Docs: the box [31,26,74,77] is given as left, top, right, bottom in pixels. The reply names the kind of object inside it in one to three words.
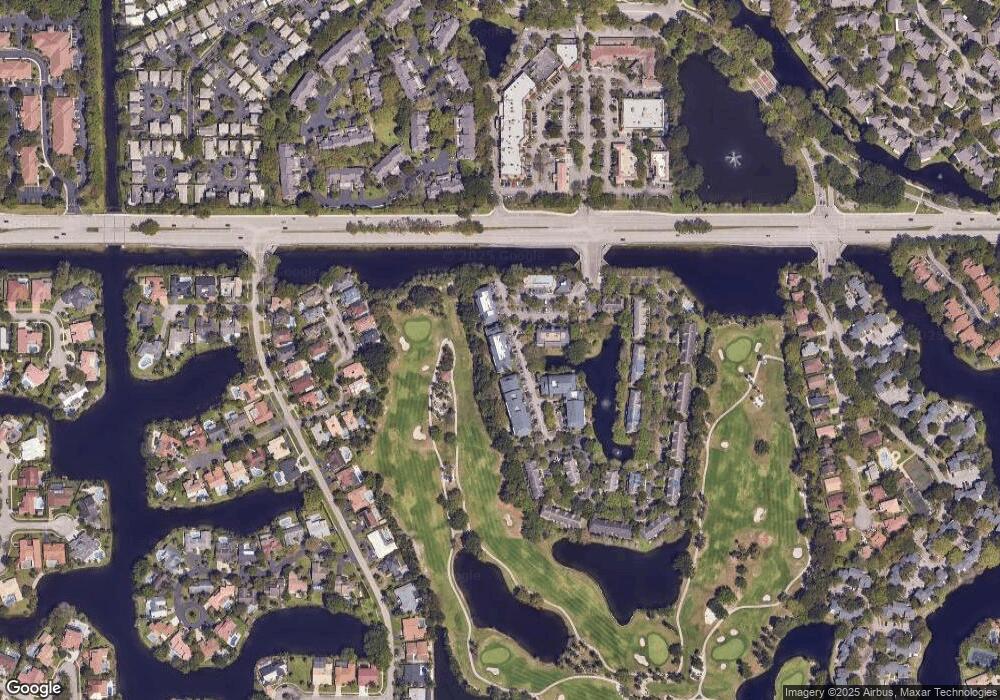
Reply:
building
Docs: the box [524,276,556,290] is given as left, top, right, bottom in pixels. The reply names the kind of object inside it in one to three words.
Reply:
building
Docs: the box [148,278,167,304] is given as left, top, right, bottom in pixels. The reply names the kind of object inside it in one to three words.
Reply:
house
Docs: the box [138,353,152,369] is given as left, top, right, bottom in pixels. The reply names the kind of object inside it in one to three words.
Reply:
swimming pool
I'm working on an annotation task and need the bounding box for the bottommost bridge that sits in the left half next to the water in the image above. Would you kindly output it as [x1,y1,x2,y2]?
[241,243,277,274]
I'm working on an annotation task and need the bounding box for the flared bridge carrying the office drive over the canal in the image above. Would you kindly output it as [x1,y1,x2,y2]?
[572,244,610,272]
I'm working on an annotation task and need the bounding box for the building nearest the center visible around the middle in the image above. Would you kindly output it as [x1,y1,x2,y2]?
[480,322,515,376]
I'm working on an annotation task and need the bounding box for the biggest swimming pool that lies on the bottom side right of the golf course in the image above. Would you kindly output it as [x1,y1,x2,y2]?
[878,447,900,469]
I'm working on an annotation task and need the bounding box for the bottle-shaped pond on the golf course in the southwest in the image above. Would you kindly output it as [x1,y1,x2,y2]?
[453,550,567,662]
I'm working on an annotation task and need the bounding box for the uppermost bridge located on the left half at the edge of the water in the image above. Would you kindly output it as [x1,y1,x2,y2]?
[103,213,126,248]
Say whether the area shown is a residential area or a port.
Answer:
residential area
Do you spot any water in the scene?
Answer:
Yes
